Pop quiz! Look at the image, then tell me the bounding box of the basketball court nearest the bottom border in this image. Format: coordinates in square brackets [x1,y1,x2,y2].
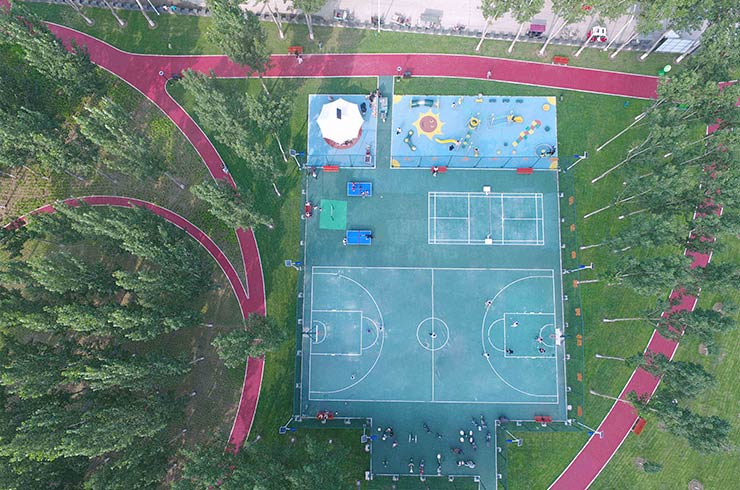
[309,267,558,403]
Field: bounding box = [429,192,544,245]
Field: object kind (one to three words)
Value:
sports court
